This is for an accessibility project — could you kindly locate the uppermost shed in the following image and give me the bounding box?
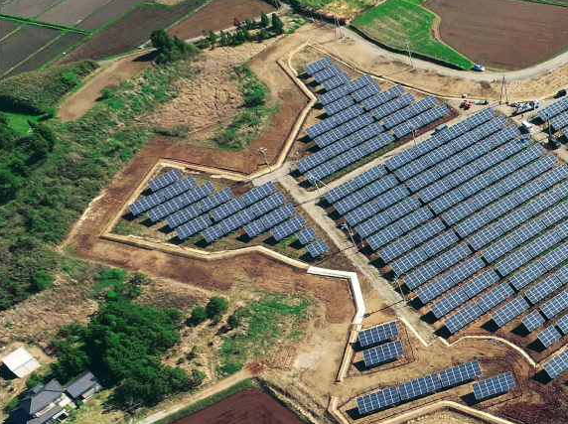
[1,346,42,383]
